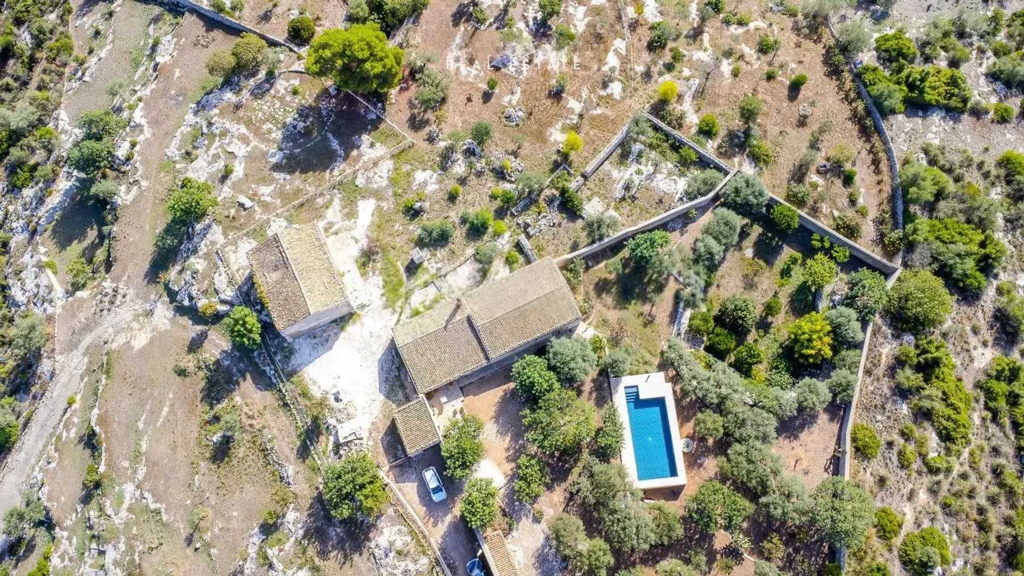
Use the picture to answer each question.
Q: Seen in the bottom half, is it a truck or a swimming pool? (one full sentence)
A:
It is a swimming pool that can be seen in the bottom half.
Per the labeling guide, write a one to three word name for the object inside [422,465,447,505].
car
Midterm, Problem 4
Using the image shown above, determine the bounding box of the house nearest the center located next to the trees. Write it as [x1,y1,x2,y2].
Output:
[393,258,581,398]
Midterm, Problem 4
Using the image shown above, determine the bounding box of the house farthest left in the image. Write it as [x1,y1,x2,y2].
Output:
[247,223,353,339]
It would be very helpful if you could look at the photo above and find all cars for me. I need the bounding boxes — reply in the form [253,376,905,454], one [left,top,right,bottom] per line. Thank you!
[467,555,486,576]
[422,465,447,505]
